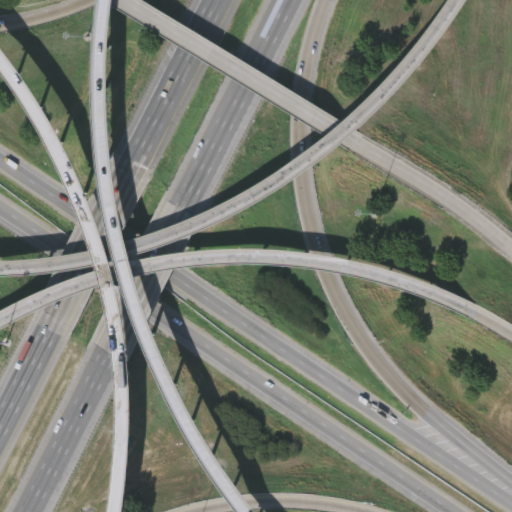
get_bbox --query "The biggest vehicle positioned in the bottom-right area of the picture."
[370,404,388,418]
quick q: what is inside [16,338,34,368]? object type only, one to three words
vehicle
